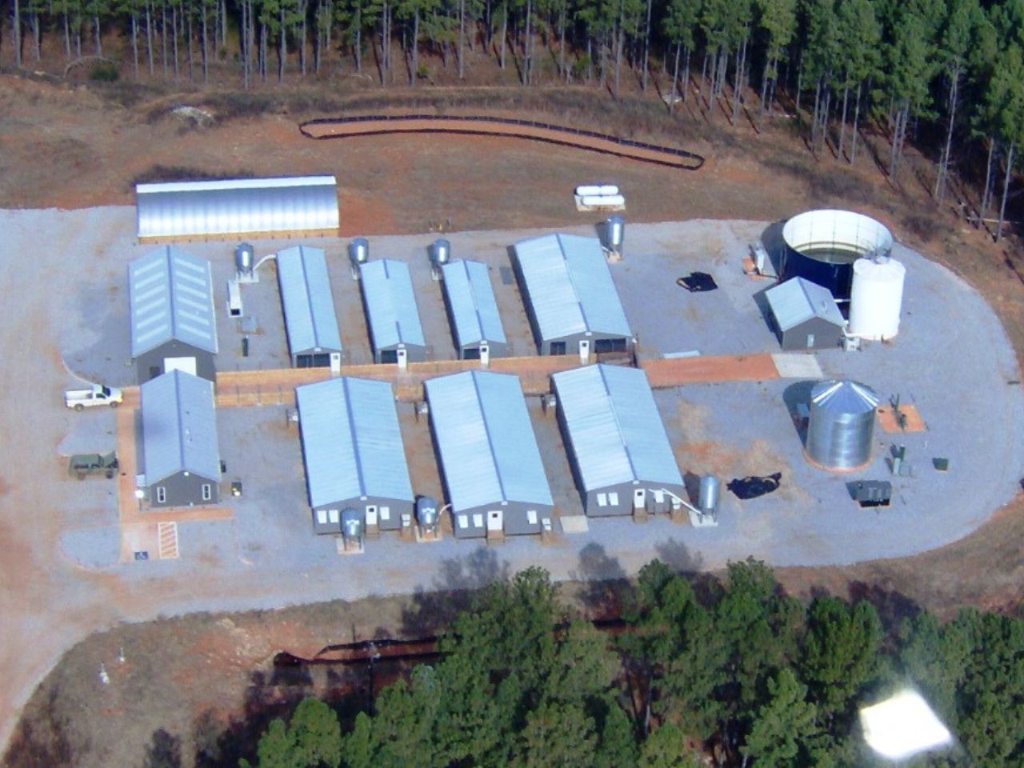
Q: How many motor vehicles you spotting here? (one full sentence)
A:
Looking from above, you can make out 2 motor vehicles.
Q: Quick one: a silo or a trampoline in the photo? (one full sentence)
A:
Looking from above, you can make out a silo.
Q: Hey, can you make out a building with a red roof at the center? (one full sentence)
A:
No, there's no building with a red roof to be seen at the center.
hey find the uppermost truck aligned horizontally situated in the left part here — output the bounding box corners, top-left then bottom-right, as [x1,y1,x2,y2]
[63,386,123,412]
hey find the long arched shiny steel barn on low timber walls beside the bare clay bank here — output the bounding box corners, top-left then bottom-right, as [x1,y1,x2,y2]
[137,180,339,243]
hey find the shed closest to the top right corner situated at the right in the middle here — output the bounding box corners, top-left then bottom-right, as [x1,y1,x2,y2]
[765,277,848,349]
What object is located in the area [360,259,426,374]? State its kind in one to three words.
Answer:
building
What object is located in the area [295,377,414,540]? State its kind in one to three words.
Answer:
building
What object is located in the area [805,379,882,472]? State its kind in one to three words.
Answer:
silo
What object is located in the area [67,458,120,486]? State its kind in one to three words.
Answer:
truck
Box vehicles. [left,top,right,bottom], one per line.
[67,458,120,486]
[63,386,123,412]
